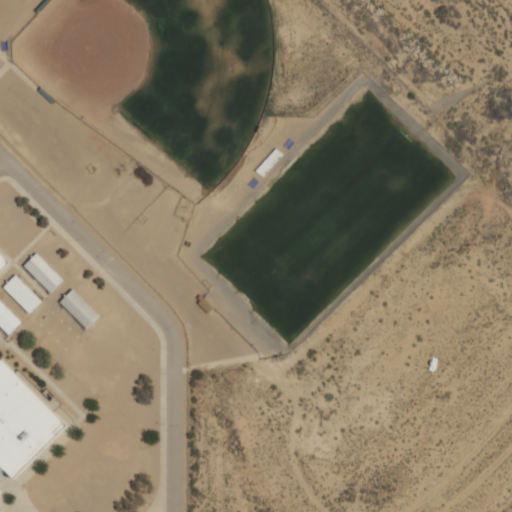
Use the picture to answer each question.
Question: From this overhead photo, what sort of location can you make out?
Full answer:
What you see here is a sports ground.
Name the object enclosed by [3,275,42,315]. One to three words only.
building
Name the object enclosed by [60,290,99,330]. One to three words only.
building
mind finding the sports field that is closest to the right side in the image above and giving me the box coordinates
[201,90,458,348]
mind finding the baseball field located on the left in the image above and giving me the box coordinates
[12,0,272,204]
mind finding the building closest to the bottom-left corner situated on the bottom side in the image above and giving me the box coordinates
[0,360,67,480]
